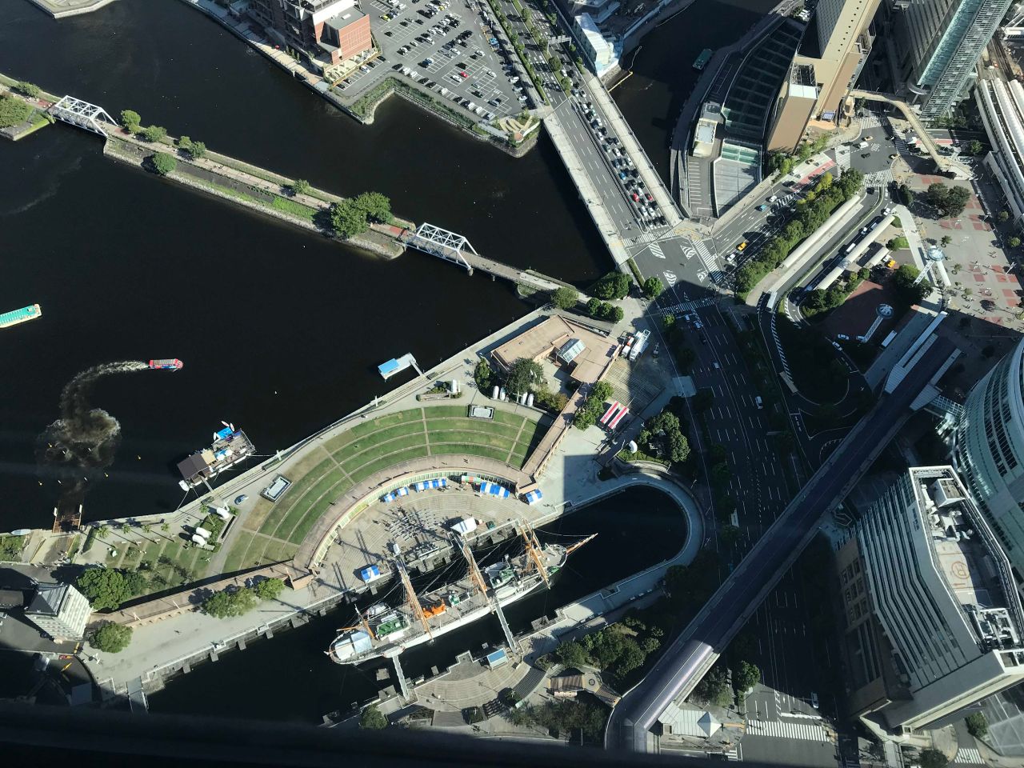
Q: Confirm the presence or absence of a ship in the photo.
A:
Yes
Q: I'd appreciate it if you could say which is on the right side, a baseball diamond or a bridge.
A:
bridge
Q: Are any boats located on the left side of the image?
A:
Yes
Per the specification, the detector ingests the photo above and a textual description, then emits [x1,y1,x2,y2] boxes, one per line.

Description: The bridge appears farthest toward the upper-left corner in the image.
[49,92,117,138]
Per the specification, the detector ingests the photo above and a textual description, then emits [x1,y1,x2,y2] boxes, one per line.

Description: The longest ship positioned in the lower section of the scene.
[321,510,600,669]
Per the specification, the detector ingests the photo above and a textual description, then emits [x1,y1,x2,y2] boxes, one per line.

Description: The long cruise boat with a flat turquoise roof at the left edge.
[0,303,43,328]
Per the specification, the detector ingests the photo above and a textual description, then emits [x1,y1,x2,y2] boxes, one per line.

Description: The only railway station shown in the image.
[974,48,1024,232]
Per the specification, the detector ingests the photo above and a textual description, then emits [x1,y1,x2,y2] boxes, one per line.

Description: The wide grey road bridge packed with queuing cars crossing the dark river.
[542,76,686,272]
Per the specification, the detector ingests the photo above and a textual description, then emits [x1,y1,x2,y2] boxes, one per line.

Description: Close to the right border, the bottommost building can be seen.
[813,466,1024,728]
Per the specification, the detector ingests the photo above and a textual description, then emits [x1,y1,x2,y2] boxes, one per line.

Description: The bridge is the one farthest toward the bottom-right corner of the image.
[929,397,961,440]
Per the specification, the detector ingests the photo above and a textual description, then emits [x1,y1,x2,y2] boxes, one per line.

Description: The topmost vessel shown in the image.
[691,47,712,71]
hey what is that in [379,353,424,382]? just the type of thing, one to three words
pier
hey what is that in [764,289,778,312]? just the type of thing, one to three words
vehicle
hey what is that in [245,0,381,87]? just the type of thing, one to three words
building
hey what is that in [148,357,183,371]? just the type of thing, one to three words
boat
